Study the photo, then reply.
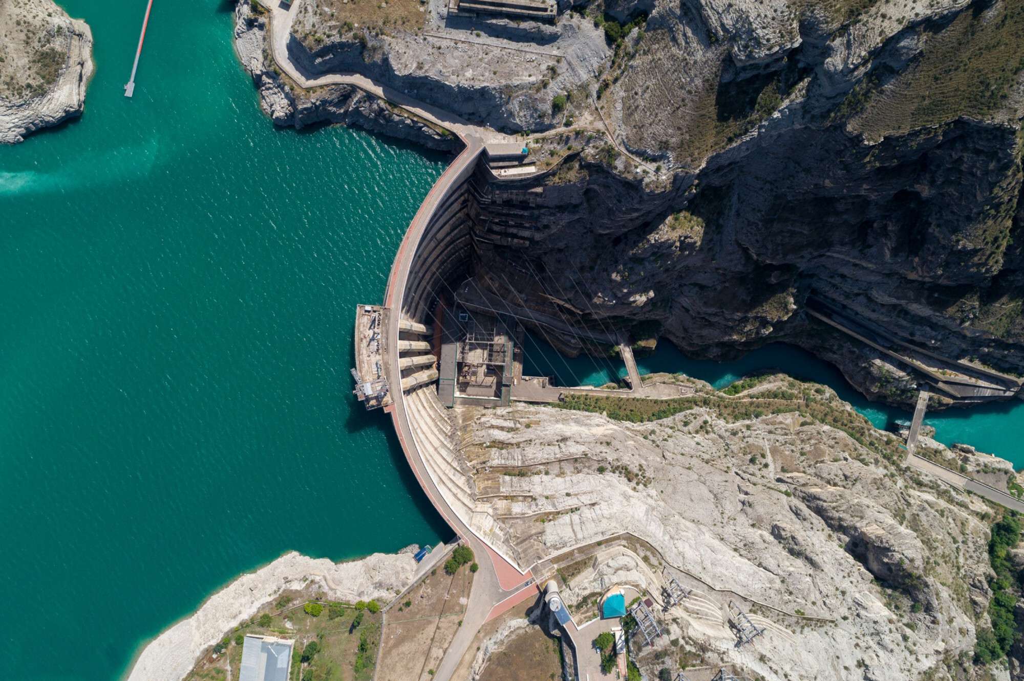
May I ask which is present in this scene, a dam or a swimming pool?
dam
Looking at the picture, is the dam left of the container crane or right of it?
right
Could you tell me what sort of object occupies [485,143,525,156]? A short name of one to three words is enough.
building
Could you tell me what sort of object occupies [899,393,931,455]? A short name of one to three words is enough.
bridge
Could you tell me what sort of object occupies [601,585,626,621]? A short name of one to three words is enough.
building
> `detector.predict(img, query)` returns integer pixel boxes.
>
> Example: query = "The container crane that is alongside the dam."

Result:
[352,369,389,409]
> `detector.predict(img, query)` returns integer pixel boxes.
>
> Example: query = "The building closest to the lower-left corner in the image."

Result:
[240,630,298,681]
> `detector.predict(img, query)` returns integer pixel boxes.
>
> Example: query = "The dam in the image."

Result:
[383,145,524,574]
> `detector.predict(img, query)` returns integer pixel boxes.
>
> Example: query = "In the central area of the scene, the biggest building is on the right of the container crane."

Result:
[439,303,518,407]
